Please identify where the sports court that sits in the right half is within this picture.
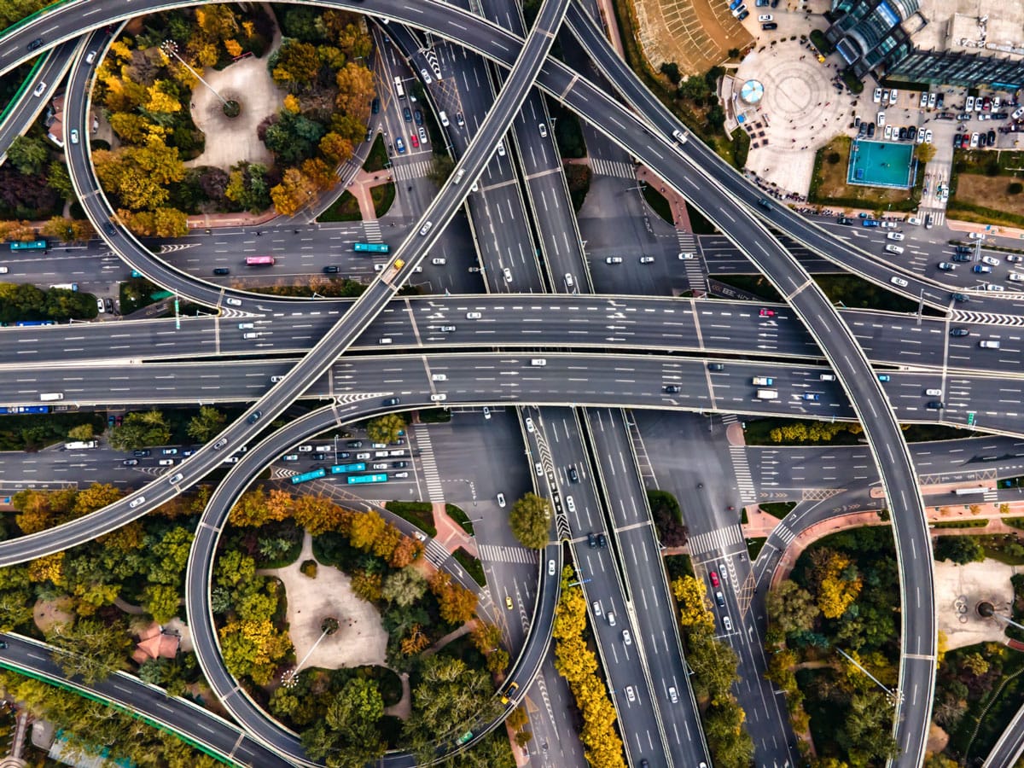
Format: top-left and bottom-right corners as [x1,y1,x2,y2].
[847,137,918,189]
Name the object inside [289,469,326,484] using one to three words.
vehicle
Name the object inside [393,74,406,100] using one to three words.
vehicle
